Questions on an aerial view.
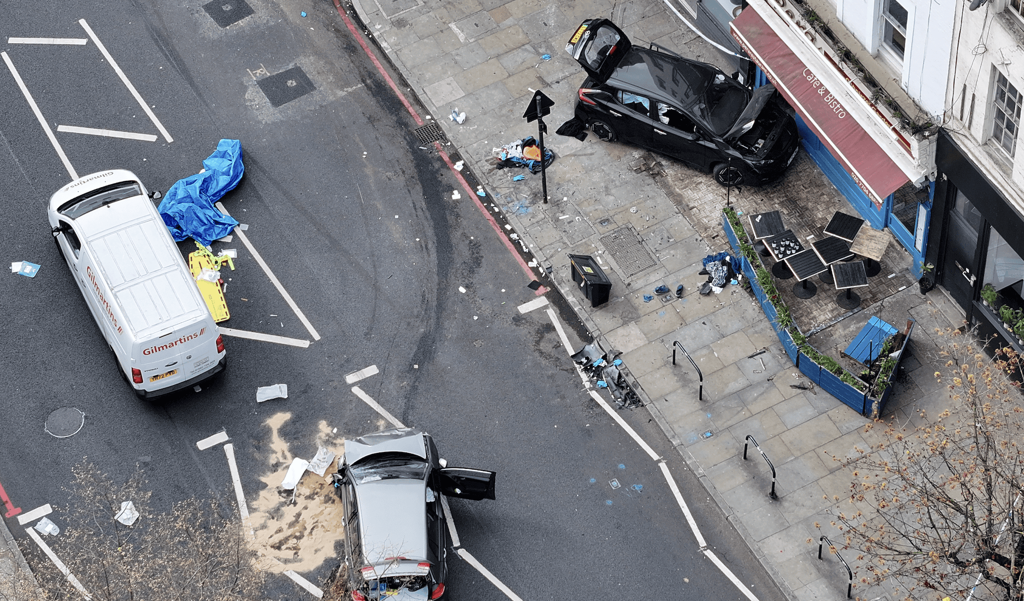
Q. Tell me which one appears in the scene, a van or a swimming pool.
van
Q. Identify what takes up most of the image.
paved ground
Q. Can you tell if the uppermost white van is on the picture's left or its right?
left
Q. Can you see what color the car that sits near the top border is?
black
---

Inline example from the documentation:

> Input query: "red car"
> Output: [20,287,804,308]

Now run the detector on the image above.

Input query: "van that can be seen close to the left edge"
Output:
[47,174,226,400]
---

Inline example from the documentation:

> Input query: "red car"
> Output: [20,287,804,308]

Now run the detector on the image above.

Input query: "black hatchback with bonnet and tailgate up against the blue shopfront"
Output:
[556,23,802,184]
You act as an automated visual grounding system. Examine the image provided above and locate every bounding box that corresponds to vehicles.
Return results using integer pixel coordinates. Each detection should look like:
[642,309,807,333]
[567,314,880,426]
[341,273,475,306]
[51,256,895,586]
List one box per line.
[556,23,802,184]
[331,431,499,601]
[47,174,226,400]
